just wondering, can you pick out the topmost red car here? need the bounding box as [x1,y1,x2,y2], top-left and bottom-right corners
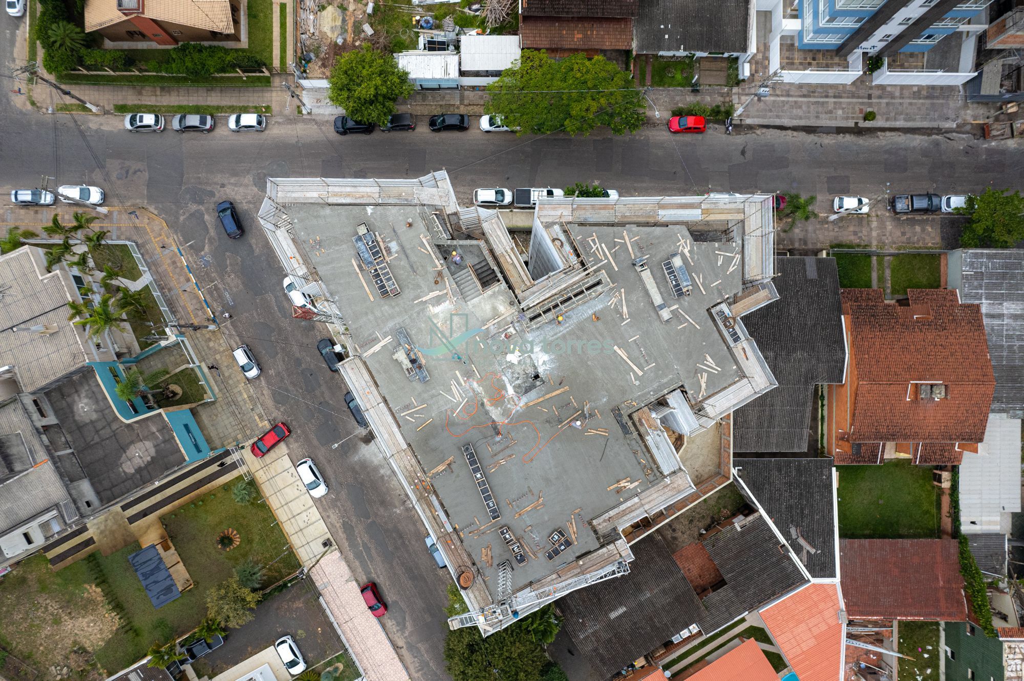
[667,113,706,135]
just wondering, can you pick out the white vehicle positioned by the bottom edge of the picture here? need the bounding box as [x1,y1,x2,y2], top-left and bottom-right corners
[274,632,307,676]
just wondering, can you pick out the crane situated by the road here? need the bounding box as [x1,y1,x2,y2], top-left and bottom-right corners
[445,557,631,632]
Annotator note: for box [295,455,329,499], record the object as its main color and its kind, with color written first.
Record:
white car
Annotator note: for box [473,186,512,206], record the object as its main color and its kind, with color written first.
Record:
white car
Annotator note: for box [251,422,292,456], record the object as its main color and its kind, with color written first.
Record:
red car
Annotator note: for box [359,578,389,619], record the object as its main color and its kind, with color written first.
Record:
red car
